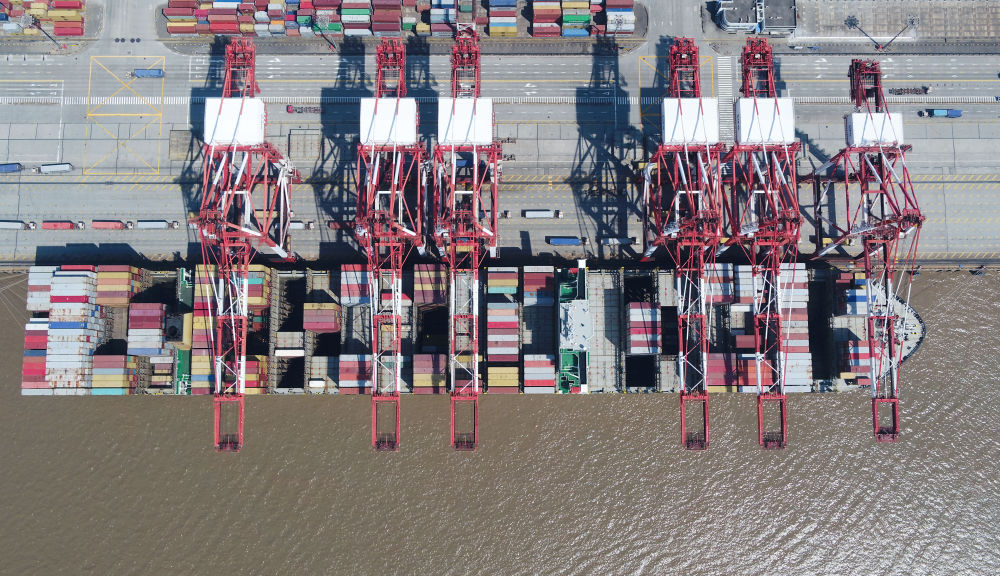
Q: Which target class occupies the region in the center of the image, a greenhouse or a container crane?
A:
container crane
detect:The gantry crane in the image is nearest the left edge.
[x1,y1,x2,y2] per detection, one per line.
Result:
[197,34,306,454]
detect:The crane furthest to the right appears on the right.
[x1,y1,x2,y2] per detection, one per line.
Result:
[791,56,929,444]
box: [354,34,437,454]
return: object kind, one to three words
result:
container crane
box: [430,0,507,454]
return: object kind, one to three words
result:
container crane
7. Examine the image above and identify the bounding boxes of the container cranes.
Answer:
[197,34,306,454]
[354,34,437,454]
[699,34,807,454]
[430,0,507,454]
[630,34,731,454]
[791,56,929,444]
